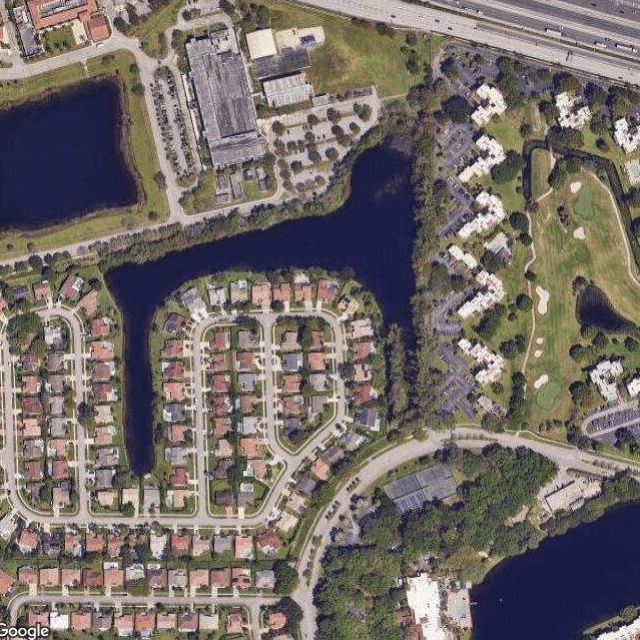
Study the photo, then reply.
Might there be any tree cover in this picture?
Yes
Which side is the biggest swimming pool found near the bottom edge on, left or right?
right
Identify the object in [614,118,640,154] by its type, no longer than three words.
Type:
building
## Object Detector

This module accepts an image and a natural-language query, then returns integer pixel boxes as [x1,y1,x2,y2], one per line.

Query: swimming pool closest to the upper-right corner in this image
[625,159,640,185]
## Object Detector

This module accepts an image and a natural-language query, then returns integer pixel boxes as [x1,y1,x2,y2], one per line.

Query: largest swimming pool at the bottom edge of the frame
[448,589,471,627]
